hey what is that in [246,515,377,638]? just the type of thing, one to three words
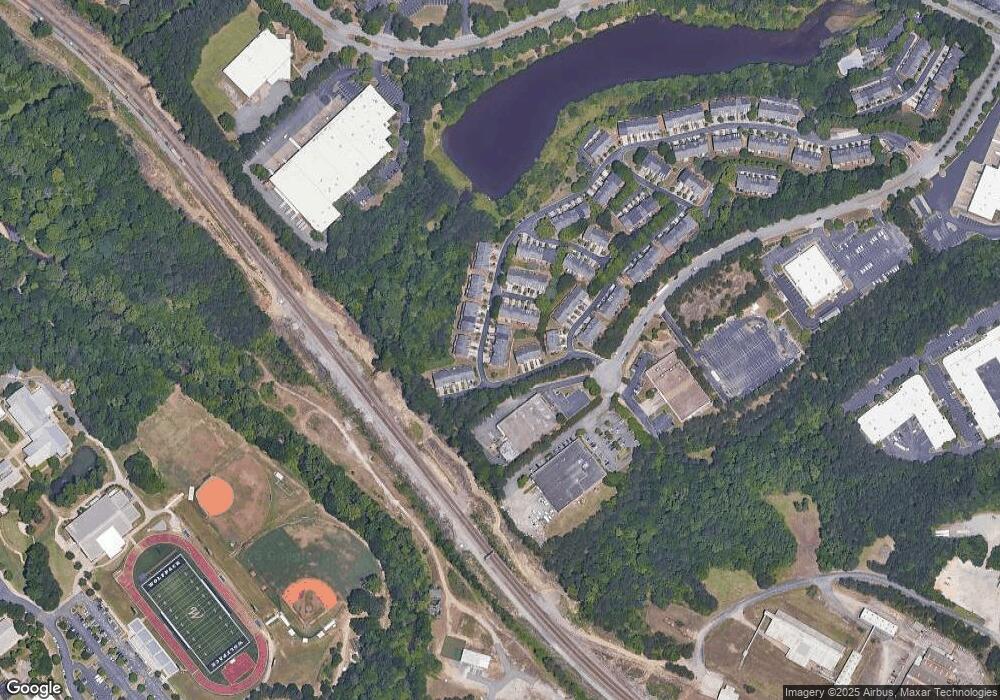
baseball field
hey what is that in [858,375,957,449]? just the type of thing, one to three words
building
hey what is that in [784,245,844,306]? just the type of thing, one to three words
building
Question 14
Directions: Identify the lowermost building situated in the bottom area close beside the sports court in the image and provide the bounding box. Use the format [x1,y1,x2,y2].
[461,648,491,669]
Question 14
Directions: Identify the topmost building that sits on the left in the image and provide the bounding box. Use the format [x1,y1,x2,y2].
[223,28,290,98]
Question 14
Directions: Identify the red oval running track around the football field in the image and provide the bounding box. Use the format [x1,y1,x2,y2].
[109,533,270,695]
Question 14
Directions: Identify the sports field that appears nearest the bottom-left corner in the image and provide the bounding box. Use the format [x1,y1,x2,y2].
[132,544,259,684]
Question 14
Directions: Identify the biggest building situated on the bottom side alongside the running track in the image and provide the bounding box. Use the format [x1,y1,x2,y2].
[64,488,140,562]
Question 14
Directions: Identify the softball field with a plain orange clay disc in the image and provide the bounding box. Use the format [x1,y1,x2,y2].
[195,478,234,515]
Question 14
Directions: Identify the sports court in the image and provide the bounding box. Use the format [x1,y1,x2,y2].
[441,636,467,662]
